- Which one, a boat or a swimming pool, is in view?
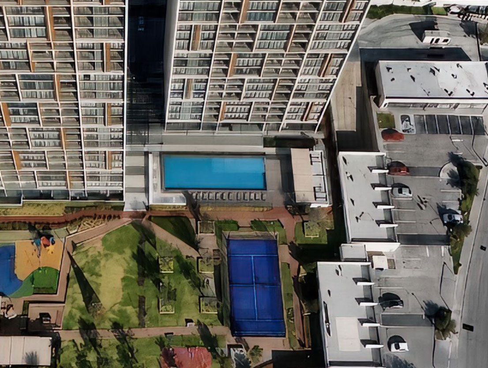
swimming pool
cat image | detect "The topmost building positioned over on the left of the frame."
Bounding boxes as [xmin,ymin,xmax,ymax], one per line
[134,0,166,52]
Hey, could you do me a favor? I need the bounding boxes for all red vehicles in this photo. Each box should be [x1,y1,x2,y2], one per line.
[384,131,405,142]
[388,165,409,175]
